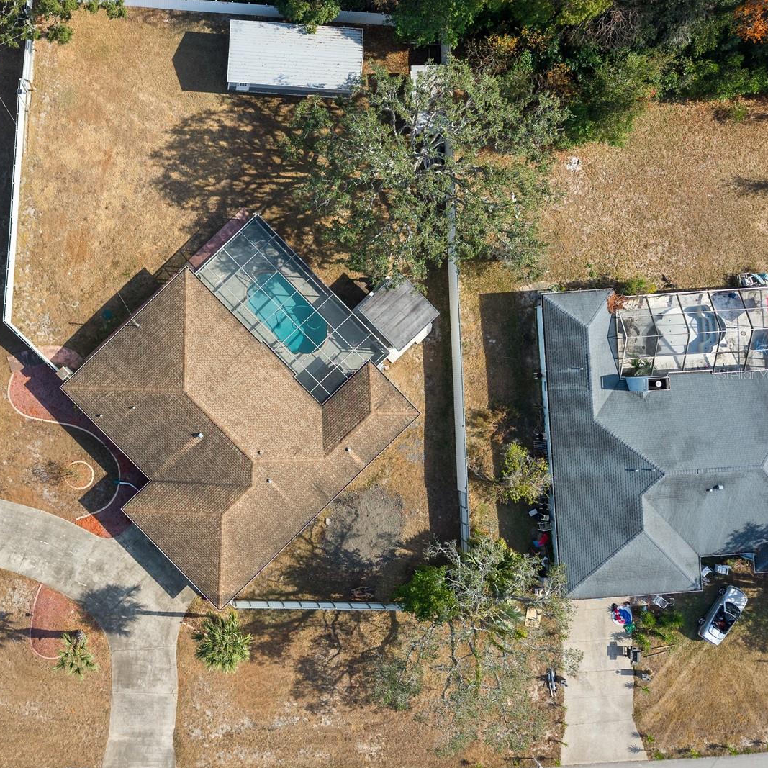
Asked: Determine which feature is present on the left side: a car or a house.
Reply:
house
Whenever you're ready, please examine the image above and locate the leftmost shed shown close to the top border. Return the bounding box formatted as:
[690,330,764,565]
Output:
[227,19,363,101]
